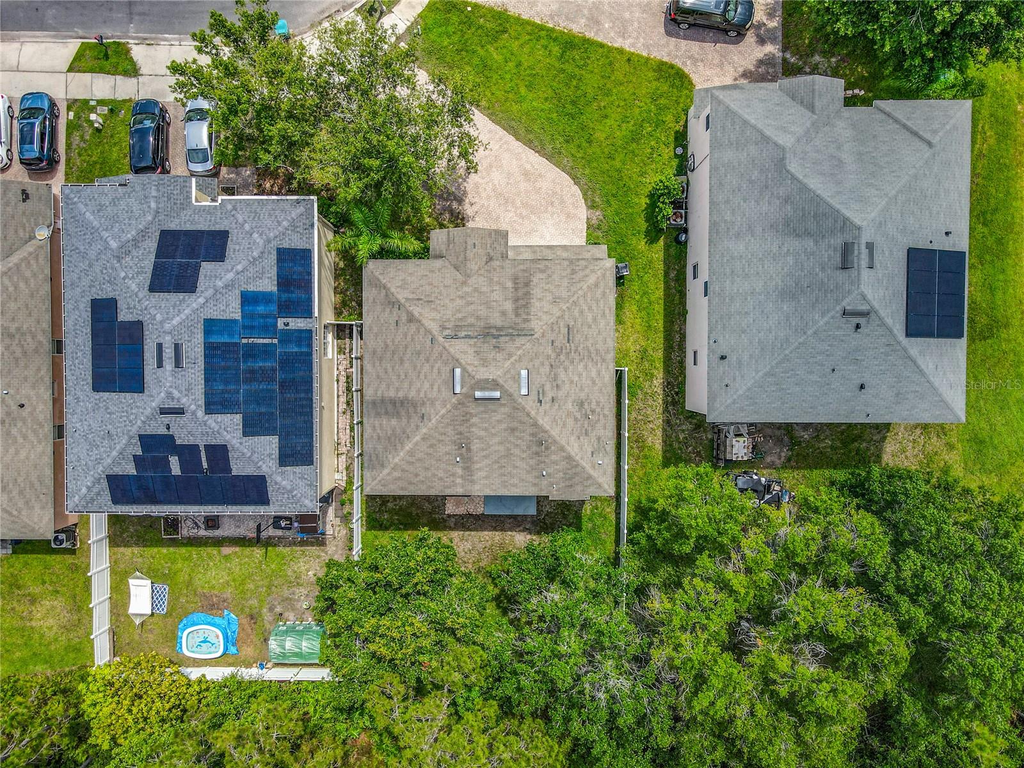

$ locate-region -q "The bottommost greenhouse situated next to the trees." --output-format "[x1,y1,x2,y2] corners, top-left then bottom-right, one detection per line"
[262,628,324,666]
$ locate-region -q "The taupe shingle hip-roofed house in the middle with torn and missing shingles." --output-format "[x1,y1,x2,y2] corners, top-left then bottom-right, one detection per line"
[363,227,615,500]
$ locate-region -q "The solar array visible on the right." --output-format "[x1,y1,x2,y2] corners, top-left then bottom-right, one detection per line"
[905,248,965,338]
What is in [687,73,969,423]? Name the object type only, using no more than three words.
house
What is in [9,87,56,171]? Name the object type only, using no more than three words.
car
